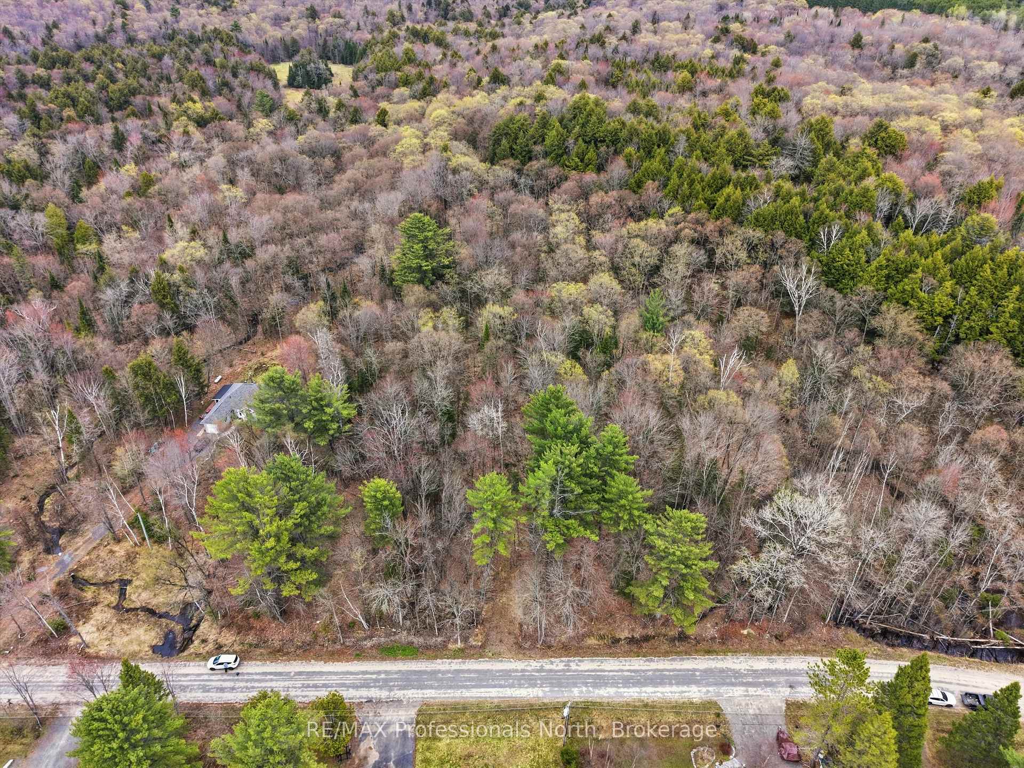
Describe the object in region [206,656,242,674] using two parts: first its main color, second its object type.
white car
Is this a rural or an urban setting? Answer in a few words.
rural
